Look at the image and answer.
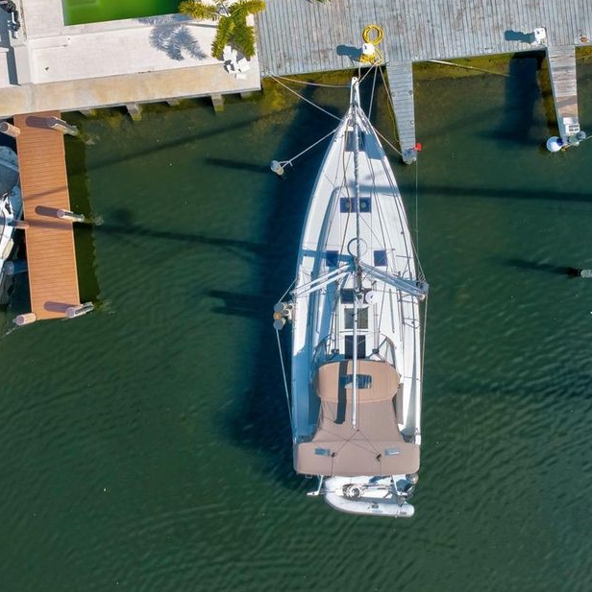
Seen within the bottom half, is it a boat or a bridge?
boat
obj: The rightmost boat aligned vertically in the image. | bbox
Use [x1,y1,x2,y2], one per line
[290,78,428,496]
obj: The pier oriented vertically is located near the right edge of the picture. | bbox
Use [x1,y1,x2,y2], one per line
[545,43,580,138]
